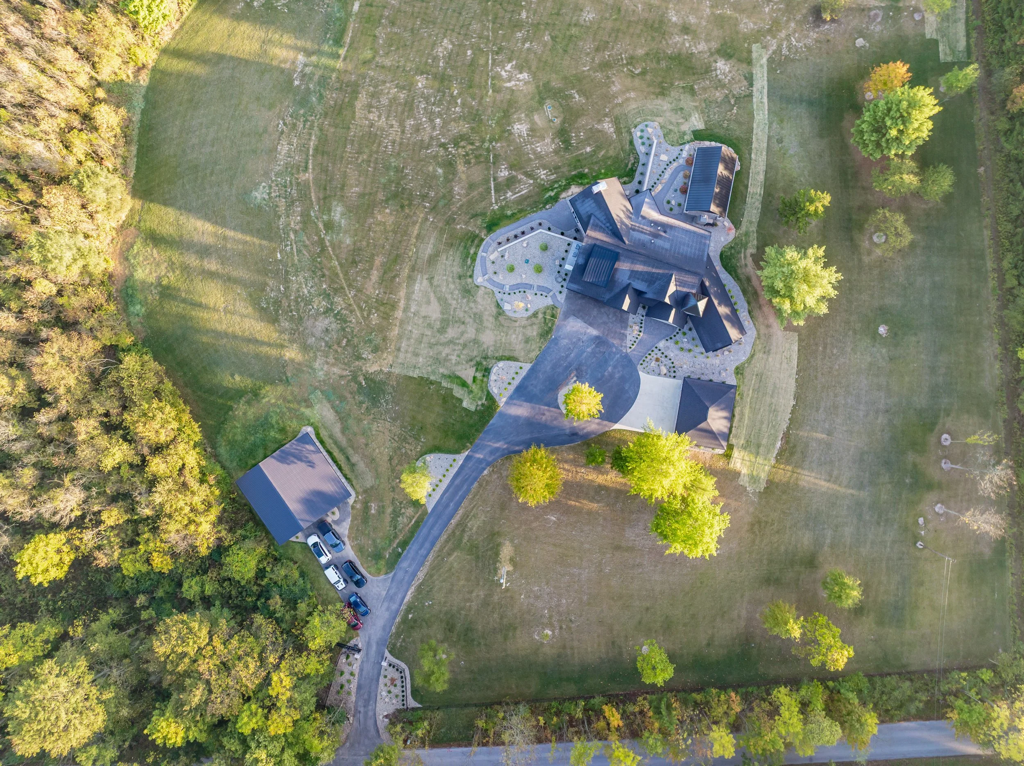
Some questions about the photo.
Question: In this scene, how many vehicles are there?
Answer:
6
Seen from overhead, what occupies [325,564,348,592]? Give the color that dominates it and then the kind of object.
white car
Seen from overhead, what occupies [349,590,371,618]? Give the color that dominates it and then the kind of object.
blue car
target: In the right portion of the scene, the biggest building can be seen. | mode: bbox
[565,176,747,353]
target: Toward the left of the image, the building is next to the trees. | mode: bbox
[235,433,353,546]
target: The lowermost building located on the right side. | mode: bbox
[675,377,737,450]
